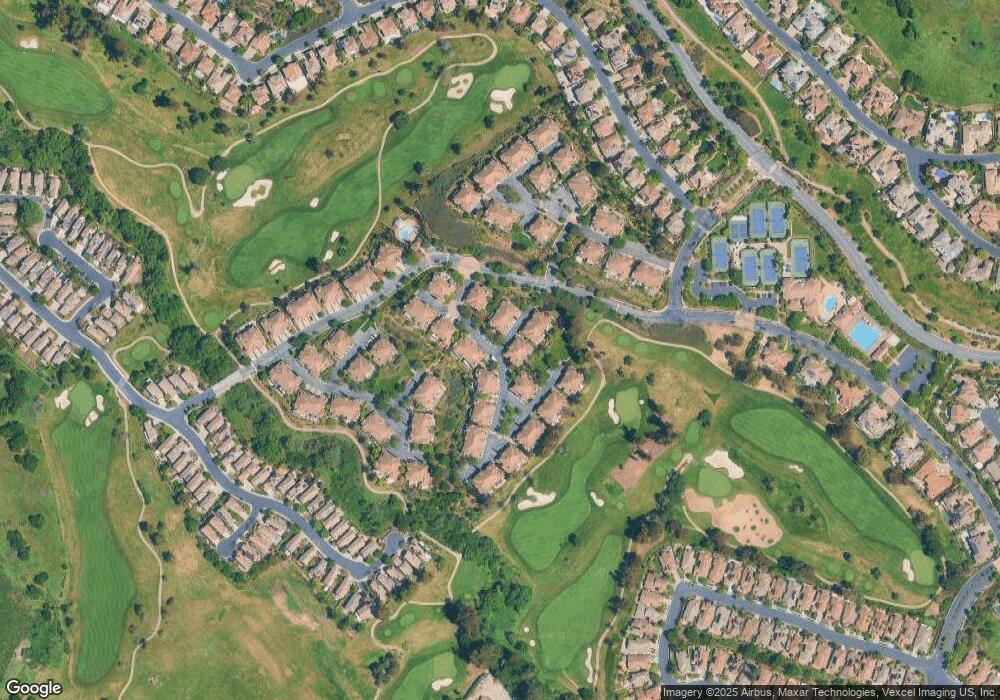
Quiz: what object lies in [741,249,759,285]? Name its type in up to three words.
tennis court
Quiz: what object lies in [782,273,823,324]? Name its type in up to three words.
building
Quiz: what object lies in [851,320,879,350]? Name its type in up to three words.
swimming pool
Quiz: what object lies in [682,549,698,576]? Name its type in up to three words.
house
